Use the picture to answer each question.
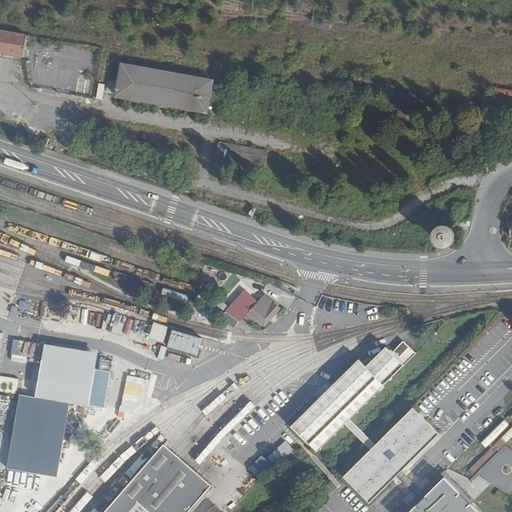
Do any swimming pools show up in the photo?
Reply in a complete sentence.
No, I can't see a single swimming pool in this photo.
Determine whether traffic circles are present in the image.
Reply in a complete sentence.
No, I can't see a single traffic circle in this photo.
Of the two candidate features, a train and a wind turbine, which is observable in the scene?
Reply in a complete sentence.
It is a train that can be seen here.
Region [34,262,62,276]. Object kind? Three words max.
rail car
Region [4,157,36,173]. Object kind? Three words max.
vehicle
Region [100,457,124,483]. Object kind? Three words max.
train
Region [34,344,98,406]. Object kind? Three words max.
building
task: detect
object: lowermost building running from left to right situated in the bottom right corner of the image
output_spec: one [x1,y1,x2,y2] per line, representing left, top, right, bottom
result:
[410,478,480,512]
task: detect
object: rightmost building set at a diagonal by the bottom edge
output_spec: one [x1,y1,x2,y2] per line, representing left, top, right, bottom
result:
[342,408,438,504]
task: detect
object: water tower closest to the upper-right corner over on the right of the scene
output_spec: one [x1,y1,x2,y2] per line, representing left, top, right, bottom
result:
[430,225,455,250]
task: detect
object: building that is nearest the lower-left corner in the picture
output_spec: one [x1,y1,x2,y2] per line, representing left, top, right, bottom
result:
[5,394,68,478]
